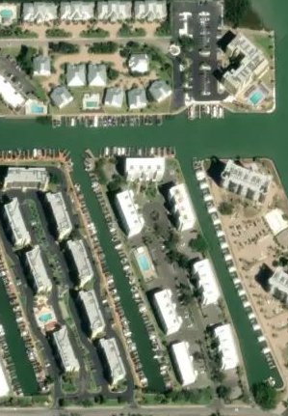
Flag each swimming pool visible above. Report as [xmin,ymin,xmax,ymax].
[244,83,269,109]
[82,94,99,110]
[0,3,16,25]
[134,245,156,280]
[26,98,46,115]
[35,304,55,327]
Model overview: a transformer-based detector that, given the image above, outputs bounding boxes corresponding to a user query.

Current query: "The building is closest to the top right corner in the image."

[220,34,269,101]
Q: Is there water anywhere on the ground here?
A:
Yes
